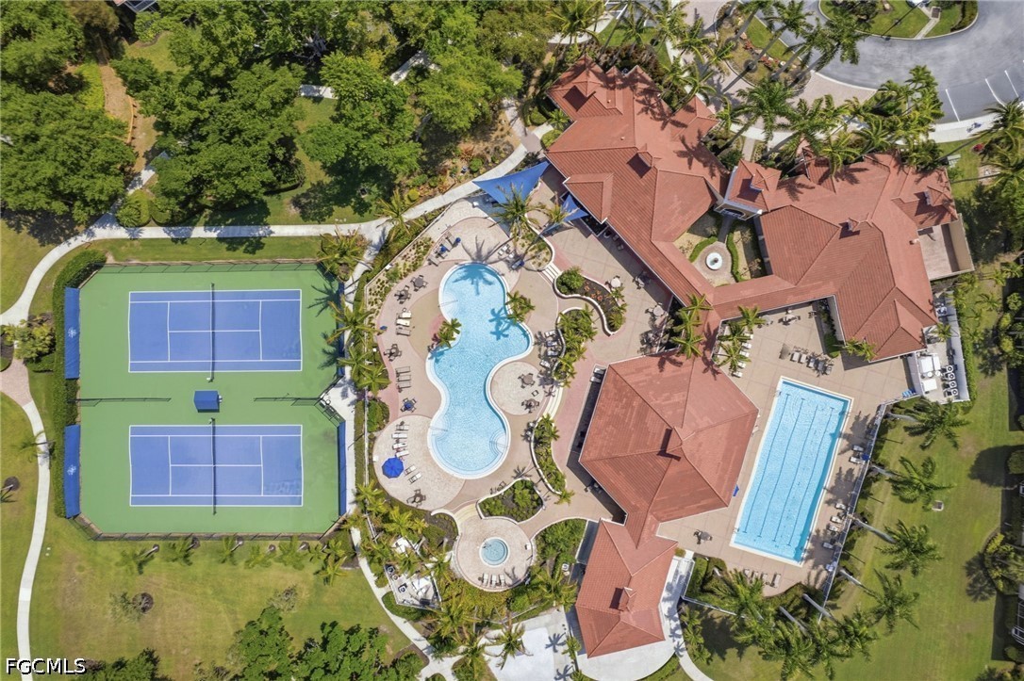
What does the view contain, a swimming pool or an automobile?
swimming pool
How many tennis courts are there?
2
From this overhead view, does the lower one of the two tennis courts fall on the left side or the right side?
left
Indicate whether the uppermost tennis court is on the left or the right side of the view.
left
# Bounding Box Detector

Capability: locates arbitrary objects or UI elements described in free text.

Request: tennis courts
[80,264,337,401]
[80,399,338,535]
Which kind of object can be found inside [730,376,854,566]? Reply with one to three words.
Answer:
swimming pool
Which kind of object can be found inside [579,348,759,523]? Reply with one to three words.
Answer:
building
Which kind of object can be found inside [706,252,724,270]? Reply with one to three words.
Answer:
fountain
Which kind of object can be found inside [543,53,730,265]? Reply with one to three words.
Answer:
building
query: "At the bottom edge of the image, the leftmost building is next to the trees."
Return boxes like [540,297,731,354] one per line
[575,508,679,660]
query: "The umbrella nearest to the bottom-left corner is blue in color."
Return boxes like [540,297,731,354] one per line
[382,456,404,478]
